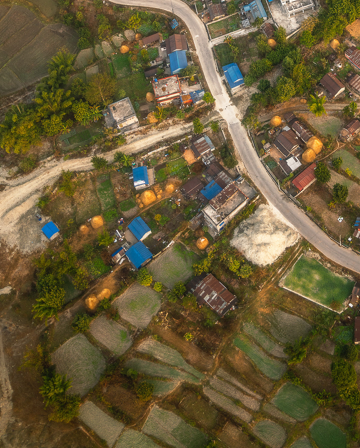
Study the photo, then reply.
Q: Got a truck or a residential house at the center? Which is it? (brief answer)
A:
residential house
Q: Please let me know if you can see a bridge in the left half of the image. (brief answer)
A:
No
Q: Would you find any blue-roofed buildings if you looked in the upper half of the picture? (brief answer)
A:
Yes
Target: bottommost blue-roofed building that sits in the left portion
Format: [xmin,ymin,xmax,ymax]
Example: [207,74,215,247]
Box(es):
[113,240,153,268]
